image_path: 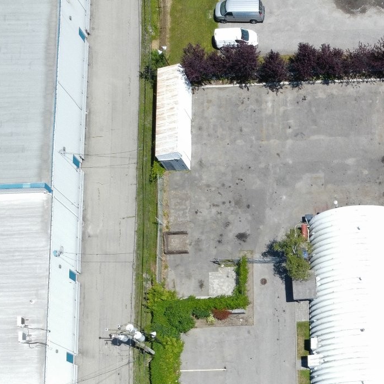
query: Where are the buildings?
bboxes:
[0,0,92,384]
[293,200,384,384]
[156,64,188,169]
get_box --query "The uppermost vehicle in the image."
[214,0,267,23]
